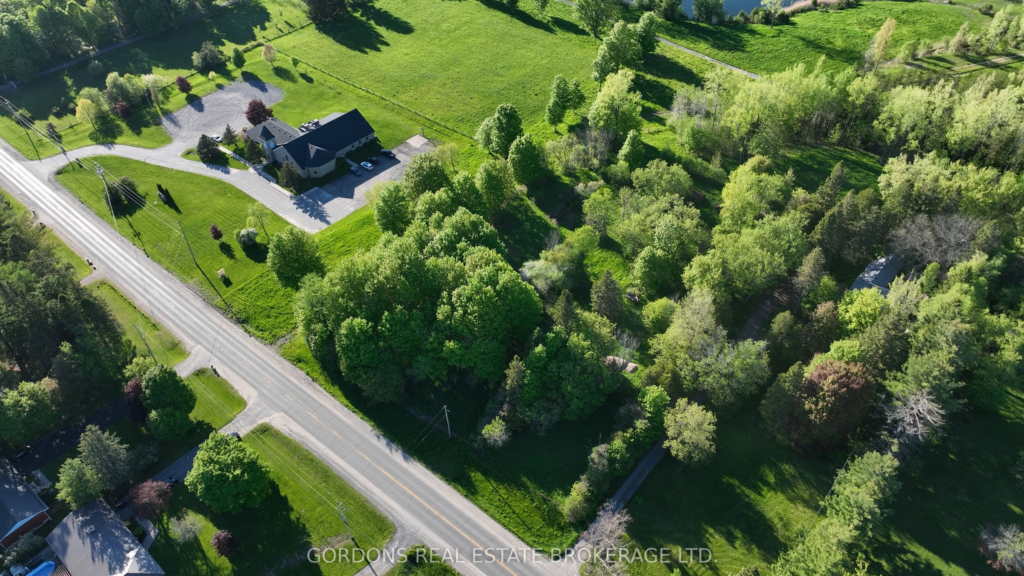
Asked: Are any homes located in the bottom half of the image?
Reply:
Yes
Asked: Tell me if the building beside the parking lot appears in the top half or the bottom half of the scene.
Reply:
top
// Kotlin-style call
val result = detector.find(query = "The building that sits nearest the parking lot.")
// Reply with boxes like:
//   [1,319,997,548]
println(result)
[244,108,375,178]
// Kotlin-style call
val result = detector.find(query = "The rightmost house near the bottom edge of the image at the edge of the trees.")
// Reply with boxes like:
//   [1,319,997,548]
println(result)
[44,498,172,576]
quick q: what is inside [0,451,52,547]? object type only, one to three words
house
